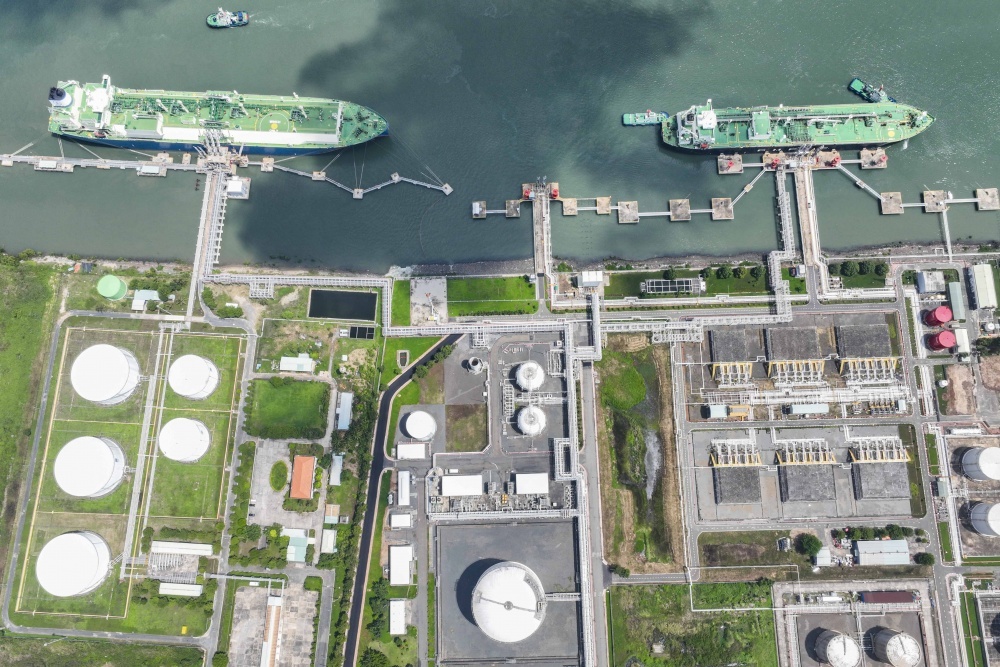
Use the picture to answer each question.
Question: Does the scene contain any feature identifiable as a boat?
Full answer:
Yes, looking at the shot, I can spot a boat.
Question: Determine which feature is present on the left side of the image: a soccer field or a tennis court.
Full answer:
What appears on the left side of the image is a soccer field.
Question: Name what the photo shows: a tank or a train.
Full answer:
There is a tank in the scene.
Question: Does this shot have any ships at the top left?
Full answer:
Yes, I can see a ship at the top left.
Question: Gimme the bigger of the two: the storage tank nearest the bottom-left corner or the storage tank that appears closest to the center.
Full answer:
It is the storage tank nearest the bottom-left corner that is larger, not the storage tank that appears closest to the center.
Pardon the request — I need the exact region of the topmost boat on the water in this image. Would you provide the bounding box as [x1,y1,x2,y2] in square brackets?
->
[209,11,248,27]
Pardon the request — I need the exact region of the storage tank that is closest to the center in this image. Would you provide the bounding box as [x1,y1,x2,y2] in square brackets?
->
[516,361,546,394]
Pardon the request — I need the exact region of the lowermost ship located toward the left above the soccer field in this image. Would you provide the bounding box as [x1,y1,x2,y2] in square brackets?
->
[47,74,389,158]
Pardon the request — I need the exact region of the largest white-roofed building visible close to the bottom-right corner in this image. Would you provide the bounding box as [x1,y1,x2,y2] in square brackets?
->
[852,539,911,564]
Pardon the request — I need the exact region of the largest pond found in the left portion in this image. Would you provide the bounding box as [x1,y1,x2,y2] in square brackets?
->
[307,288,378,321]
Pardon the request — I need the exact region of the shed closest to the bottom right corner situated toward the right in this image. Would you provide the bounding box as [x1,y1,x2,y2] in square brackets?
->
[860,590,915,604]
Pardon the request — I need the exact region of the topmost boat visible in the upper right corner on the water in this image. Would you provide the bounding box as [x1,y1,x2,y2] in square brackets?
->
[851,78,894,104]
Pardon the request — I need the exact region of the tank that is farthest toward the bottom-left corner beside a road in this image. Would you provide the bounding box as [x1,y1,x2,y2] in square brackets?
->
[34,529,111,599]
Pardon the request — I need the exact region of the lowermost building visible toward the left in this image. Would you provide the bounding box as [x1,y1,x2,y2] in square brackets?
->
[389,600,407,635]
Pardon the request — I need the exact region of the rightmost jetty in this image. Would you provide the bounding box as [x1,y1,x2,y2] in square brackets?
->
[792,169,823,267]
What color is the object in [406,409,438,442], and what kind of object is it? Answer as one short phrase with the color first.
white storage tank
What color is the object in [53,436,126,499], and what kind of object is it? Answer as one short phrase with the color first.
white storage tank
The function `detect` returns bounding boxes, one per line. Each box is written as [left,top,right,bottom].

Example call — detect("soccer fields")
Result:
[246,380,329,436]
